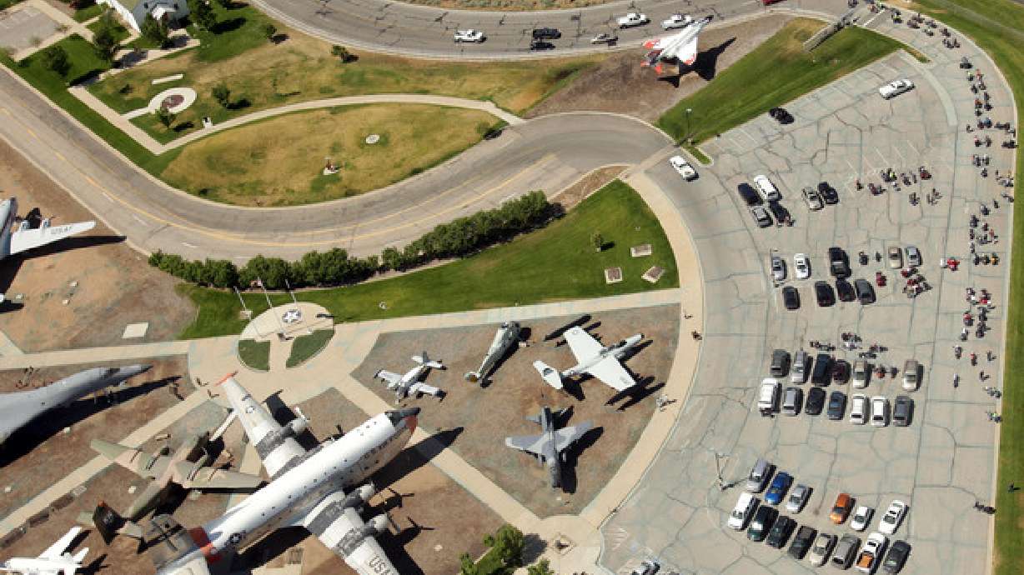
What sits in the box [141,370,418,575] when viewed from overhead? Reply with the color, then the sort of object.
white airplane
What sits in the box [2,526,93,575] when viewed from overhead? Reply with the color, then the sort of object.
white airplane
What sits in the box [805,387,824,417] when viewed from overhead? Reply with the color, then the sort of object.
black car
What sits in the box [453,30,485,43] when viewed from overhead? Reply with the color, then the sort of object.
white vehicle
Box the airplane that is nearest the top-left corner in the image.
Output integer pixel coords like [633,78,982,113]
[0,196,96,301]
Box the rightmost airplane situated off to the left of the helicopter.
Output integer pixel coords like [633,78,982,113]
[377,351,448,403]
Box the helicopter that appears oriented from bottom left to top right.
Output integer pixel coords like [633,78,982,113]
[461,321,515,386]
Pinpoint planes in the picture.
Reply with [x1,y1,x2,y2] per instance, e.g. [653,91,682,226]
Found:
[506,399,590,491]
[377,351,448,403]
[642,17,713,80]
[89,429,258,550]
[141,370,418,575]
[0,366,153,454]
[0,196,96,301]
[531,314,652,406]
[2,526,93,575]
